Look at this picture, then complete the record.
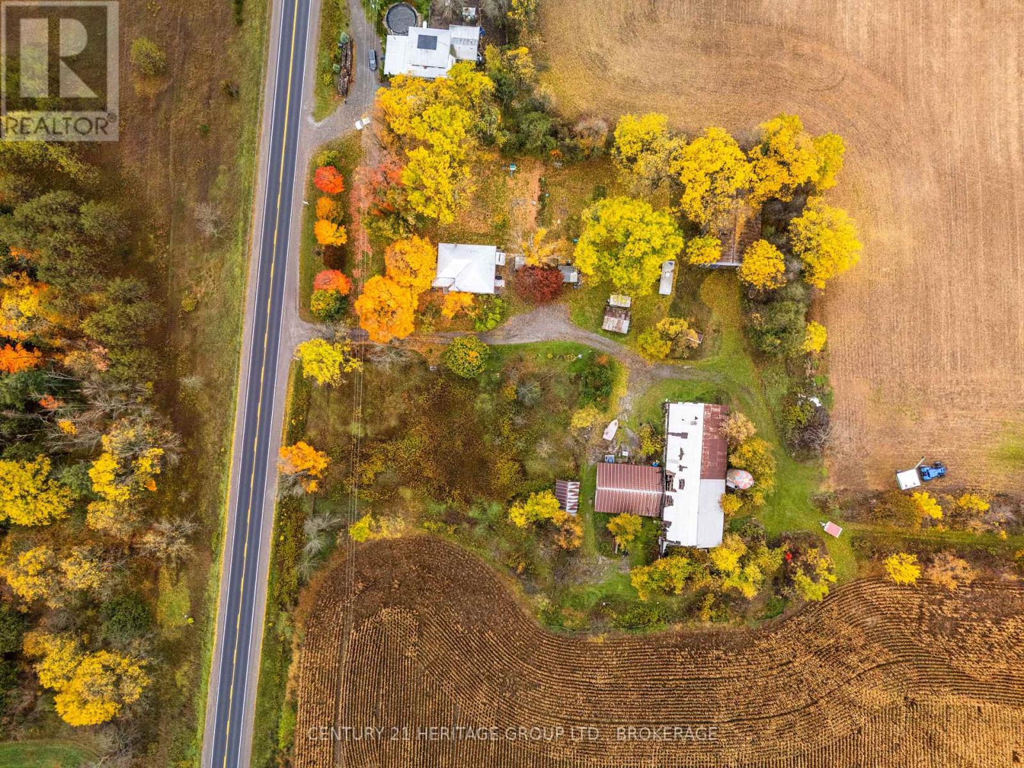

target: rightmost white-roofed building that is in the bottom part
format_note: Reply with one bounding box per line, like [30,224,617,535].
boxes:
[657,400,730,561]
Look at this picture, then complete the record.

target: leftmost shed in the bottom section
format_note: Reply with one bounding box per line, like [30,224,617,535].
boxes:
[556,480,578,515]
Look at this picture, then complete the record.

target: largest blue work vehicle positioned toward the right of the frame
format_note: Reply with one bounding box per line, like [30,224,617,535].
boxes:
[919,463,950,482]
